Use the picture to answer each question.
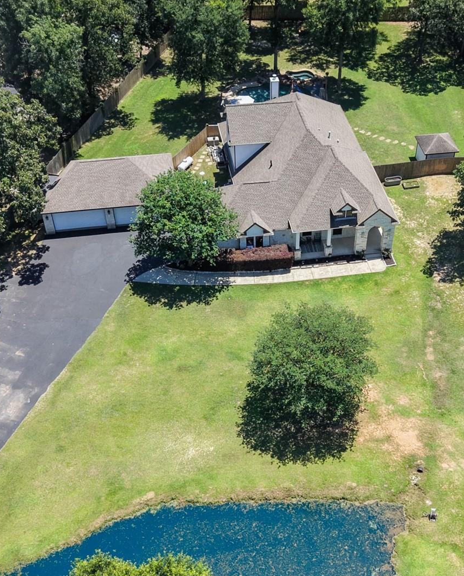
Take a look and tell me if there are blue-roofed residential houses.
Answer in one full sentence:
No, the scene contains no blue-roofed residential house.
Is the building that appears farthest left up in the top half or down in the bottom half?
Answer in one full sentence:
It is in the top half that the building that appears farthest left appears.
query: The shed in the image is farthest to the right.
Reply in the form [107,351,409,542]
[413,130,460,167]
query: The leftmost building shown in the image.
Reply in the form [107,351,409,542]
[42,153,176,233]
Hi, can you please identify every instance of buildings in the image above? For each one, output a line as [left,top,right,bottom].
[42,153,176,233]
[413,130,460,167]
[203,70,403,259]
